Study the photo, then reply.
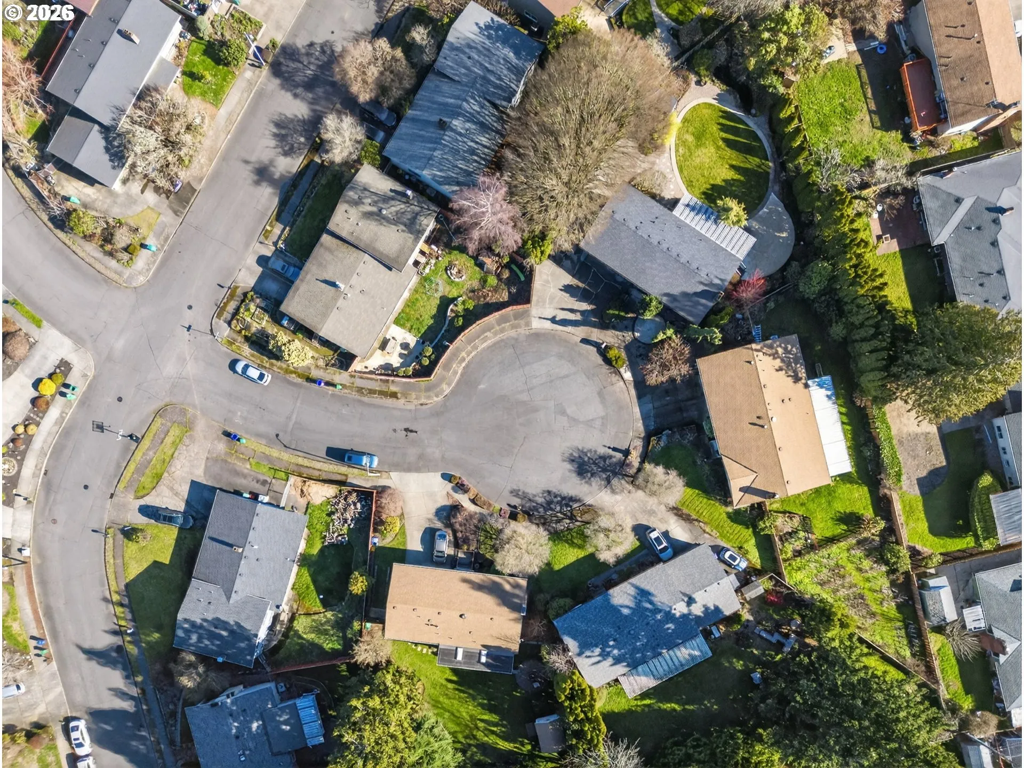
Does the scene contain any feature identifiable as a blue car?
Yes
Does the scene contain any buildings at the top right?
Yes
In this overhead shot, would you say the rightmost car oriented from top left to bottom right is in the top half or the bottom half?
bottom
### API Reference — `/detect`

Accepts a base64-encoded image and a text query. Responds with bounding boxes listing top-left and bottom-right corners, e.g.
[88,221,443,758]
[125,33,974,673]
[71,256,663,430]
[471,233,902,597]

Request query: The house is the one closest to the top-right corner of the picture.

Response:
[906,0,1024,136]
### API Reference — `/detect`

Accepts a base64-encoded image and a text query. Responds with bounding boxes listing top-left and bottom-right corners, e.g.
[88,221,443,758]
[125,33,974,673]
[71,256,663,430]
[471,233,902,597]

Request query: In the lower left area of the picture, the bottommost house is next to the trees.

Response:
[184,674,307,768]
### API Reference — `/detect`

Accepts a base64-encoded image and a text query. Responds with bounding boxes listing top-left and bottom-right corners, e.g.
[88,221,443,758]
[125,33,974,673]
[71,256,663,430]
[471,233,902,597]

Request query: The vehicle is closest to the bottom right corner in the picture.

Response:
[717,545,749,571]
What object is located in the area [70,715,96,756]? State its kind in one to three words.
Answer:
car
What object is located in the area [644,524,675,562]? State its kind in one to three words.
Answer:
car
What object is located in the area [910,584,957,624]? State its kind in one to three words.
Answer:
shed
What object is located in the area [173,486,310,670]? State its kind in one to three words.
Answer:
house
